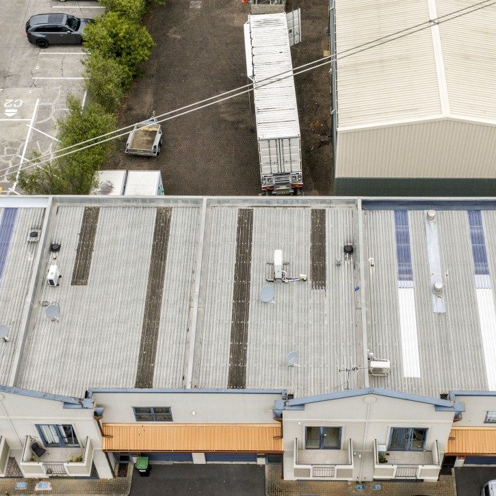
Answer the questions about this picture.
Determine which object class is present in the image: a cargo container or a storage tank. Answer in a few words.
cargo container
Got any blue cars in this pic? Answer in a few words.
No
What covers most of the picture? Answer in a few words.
buildings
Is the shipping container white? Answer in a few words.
Yes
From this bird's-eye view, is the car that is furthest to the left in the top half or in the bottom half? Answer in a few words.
top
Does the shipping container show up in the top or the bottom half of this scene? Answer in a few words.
top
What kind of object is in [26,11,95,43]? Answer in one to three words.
car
